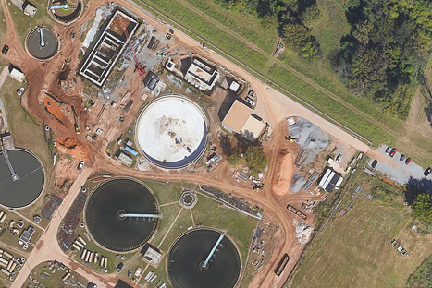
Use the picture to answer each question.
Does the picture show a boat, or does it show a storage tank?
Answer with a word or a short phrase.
storage tank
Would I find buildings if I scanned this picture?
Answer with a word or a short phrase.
Yes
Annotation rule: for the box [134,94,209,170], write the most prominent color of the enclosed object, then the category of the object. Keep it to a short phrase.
white storage tank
